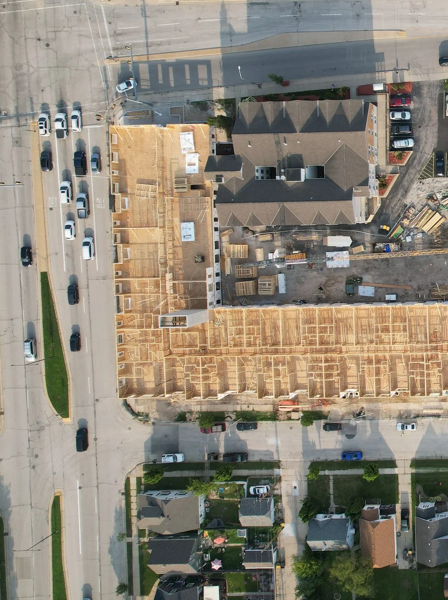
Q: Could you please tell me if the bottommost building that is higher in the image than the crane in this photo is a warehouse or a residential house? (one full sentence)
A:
Looking closely, the bottommost building that is higher in the image than the crane is a residential house.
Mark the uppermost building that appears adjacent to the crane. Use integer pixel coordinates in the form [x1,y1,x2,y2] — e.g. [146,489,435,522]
[205,101,382,226]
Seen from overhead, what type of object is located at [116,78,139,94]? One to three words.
car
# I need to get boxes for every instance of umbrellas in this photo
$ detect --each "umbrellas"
[211,558,223,570]
[214,535,225,547]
